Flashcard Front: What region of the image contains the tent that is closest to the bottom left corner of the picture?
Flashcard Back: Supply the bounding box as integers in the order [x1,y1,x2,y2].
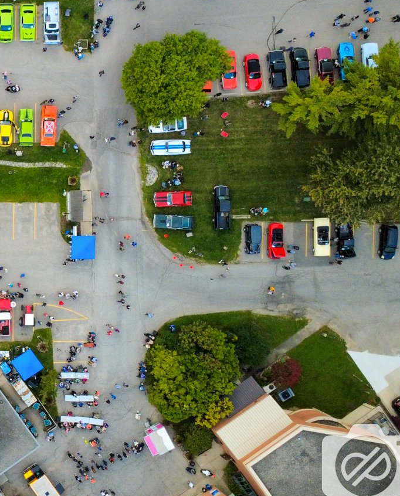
[8,344,45,383]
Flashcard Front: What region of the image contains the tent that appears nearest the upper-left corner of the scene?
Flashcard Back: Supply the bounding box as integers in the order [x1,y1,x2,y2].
[69,236,95,259]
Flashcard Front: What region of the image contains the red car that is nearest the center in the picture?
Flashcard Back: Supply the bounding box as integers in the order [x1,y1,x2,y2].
[152,190,192,208]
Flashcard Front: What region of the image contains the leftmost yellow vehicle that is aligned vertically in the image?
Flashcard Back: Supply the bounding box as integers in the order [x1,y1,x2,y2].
[0,108,19,148]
